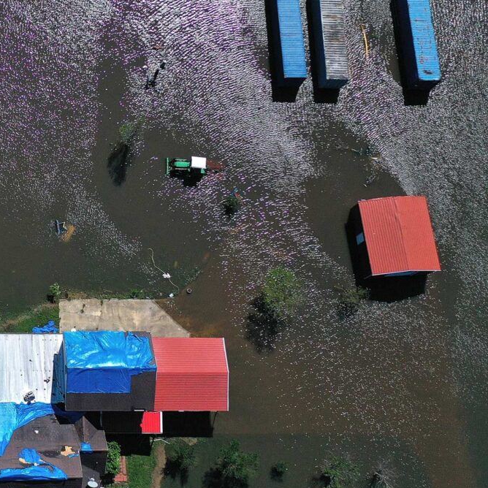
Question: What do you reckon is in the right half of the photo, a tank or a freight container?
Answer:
freight container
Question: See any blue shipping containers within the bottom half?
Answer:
No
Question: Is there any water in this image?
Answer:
Yes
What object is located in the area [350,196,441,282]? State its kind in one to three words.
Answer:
shed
